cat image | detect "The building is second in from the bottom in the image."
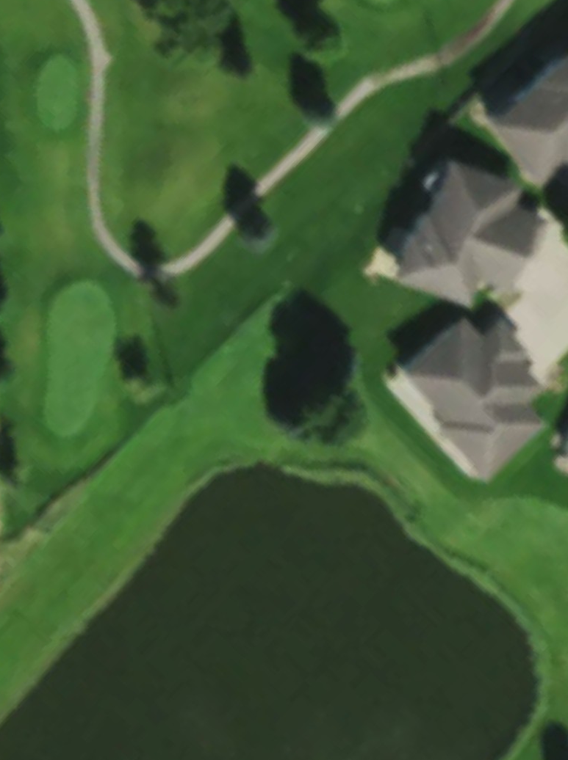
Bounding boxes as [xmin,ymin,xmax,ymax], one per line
[398,162,543,306]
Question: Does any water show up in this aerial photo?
Yes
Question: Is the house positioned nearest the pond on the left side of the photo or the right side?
right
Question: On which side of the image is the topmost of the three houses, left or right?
right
